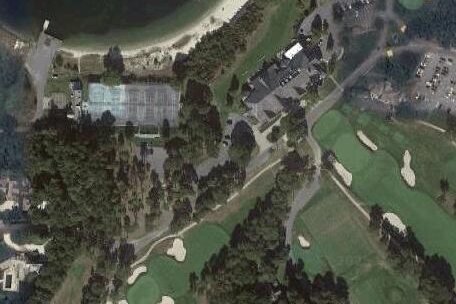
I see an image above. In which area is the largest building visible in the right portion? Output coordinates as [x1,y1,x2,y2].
[242,50,321,108]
